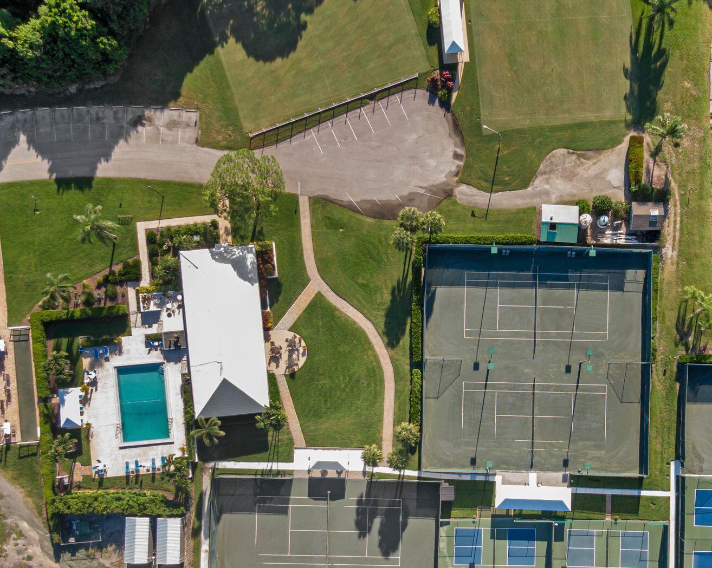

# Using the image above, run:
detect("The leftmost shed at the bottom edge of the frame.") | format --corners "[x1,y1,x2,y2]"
[124,517,154,565]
